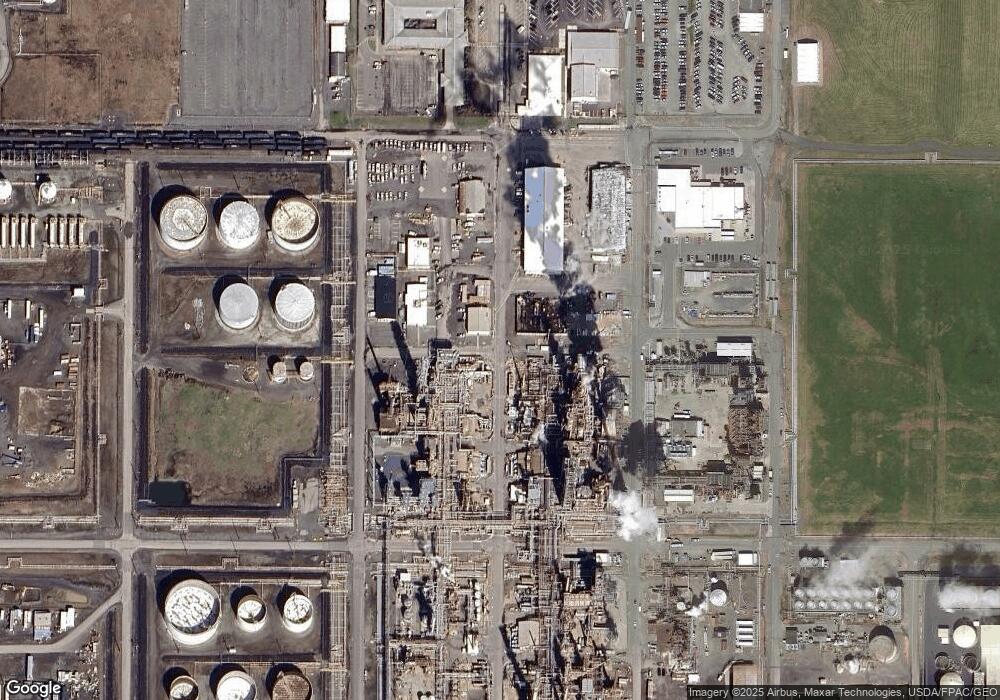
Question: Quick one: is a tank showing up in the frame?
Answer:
Yes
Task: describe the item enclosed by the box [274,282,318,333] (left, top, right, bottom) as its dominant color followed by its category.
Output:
white storage tank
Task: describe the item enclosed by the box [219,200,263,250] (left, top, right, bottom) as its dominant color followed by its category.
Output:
white storage tank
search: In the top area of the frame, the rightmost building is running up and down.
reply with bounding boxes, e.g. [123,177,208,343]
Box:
[797,41,818,86]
